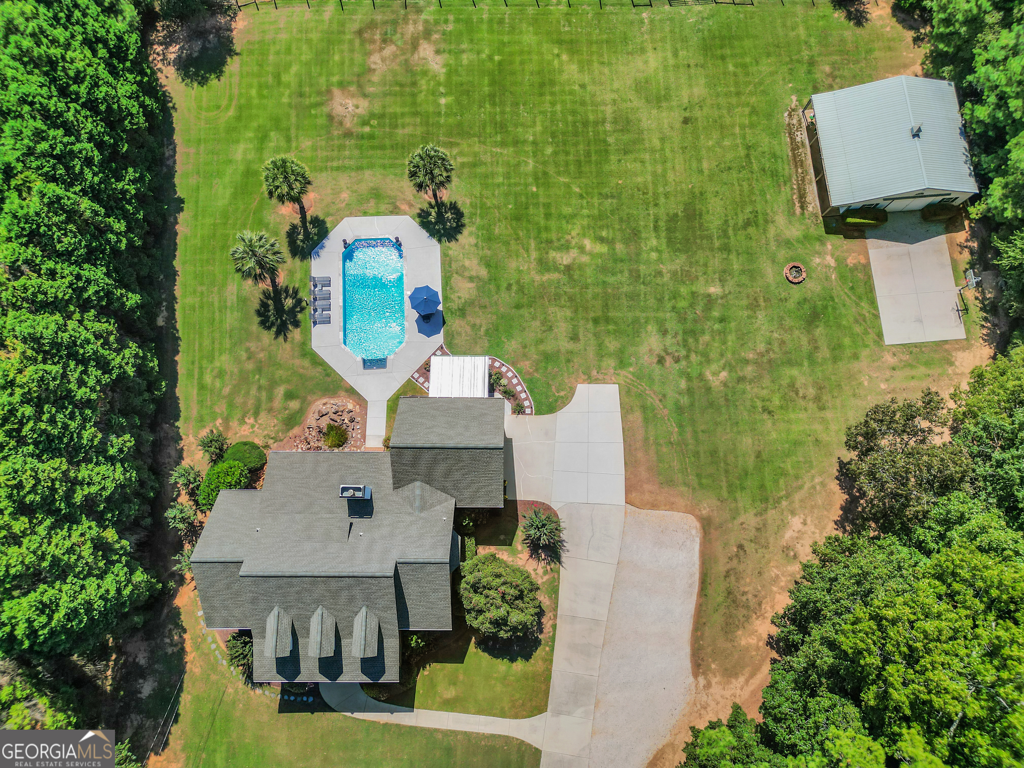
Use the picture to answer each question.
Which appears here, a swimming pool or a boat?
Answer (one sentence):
The one in the frame is a swimming pool.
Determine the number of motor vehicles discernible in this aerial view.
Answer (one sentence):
Not a single motor vehicle can be seen.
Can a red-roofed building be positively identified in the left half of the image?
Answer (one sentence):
No, no red-roofed building appears in the left half of the image.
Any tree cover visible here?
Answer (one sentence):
Yes, there is tree cover in the image.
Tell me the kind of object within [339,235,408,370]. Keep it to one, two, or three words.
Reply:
swimming pool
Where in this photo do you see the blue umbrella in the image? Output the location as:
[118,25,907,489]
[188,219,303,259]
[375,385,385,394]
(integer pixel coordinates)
[409,285,441,315]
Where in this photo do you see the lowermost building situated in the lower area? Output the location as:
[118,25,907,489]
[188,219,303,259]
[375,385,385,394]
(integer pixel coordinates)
[189,396,505,684]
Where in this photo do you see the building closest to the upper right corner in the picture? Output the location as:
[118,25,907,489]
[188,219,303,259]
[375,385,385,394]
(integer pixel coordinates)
[802,75,978,216]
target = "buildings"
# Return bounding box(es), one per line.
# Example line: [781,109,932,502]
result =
[189,396,505,684]
[802,75,978,216]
